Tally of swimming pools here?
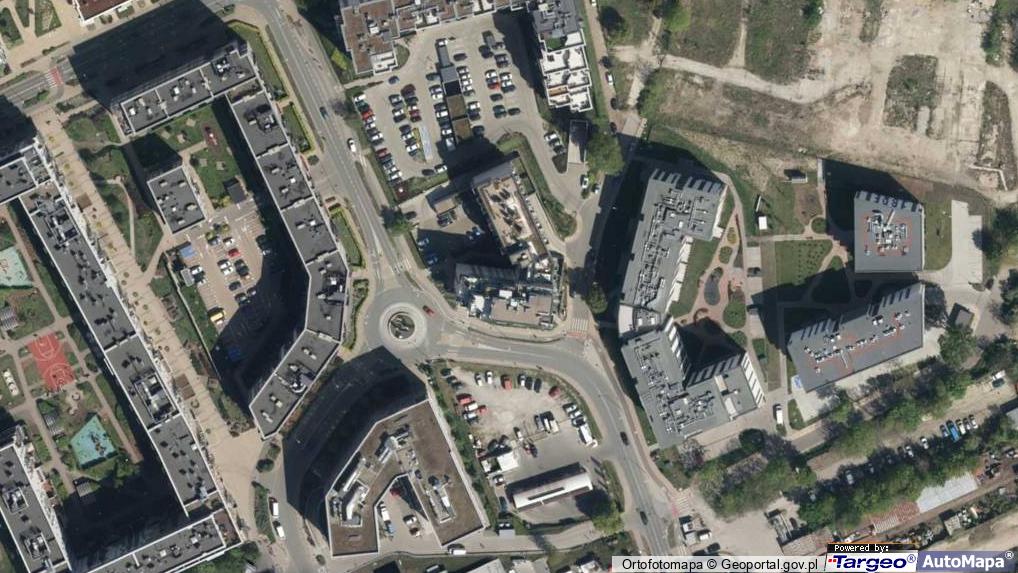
0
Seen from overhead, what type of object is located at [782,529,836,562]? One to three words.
shed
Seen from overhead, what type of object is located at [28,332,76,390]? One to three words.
basketball court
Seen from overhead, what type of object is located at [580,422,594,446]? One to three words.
vehicle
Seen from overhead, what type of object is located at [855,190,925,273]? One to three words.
building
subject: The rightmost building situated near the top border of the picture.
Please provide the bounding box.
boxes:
[531,0,594,112]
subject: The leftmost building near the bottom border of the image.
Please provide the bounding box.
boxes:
[0,431,83,573]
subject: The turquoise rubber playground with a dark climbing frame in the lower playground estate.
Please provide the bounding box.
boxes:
[70,416,115,464]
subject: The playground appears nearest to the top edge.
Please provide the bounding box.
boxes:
[0,246,31,288]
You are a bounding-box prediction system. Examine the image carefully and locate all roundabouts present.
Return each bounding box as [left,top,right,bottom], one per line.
[378,302,426,349]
